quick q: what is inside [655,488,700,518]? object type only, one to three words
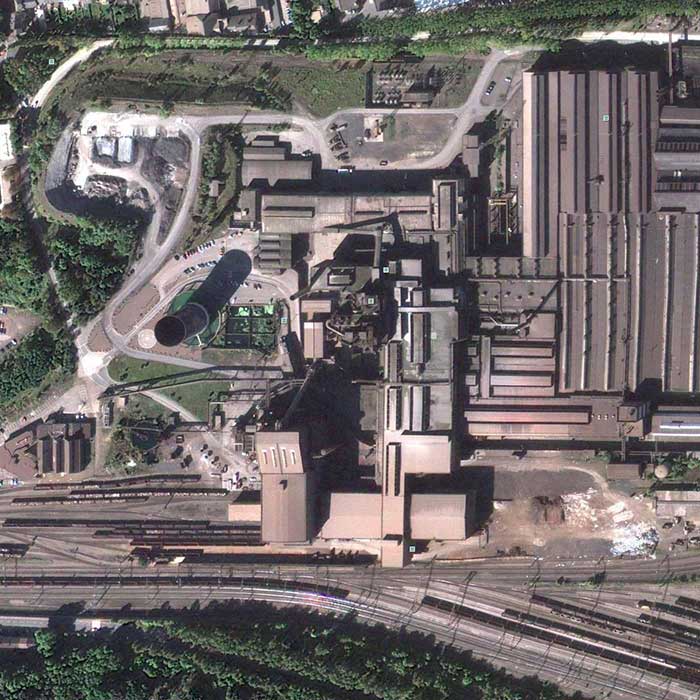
shed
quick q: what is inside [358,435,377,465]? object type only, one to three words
building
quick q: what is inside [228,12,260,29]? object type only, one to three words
house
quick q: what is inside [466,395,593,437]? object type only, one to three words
building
